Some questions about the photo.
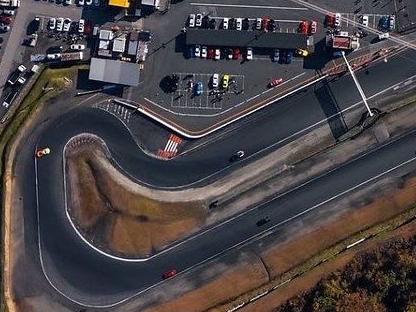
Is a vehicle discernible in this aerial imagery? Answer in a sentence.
Yes, there is a vehicle in the image.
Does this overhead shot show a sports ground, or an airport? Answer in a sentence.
This looks like a sports ground.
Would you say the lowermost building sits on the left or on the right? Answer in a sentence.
The lowermost building is on the left side of the image.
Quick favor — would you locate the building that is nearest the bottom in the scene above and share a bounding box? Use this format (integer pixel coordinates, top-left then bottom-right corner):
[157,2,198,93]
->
[89,57,142,86]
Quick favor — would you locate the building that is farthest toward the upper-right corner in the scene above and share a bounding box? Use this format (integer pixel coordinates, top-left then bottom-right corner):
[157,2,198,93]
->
[325,33,360,51]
